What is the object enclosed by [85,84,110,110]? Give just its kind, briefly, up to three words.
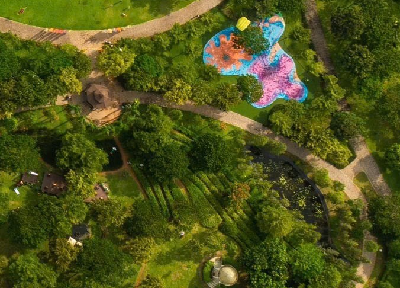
gazebo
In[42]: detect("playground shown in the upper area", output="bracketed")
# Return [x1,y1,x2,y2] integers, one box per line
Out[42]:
[202,14,308,108]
